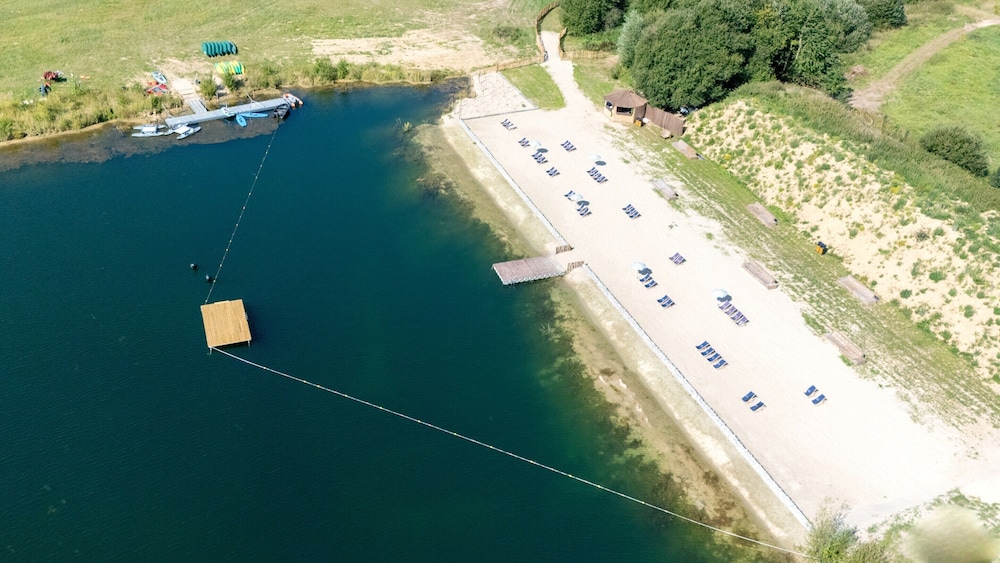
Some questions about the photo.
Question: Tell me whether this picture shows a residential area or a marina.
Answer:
marina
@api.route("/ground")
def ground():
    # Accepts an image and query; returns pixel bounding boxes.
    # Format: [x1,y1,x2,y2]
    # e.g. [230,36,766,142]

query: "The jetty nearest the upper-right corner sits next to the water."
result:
[491,255,570,287]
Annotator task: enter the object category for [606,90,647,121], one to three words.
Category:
shed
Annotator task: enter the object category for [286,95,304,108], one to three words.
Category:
boat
